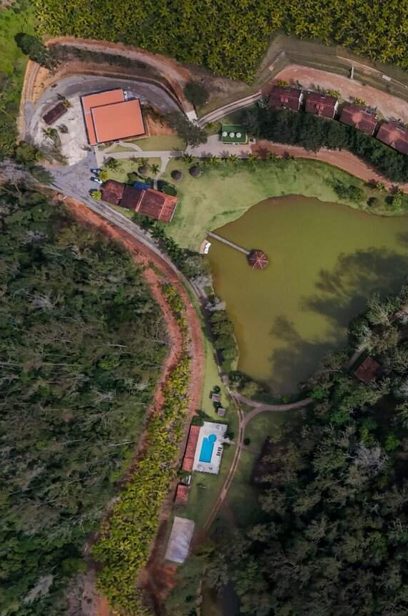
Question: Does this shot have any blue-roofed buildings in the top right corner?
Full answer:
No, there is no blue-roofed building in the top right corner.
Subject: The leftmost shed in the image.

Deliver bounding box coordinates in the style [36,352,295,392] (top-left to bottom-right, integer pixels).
[42,103,69,125]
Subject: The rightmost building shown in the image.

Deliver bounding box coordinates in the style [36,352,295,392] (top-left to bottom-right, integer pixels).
[376,123,408,153]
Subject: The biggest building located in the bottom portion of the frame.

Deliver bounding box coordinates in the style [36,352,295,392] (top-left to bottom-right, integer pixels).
[181,426,202,471]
